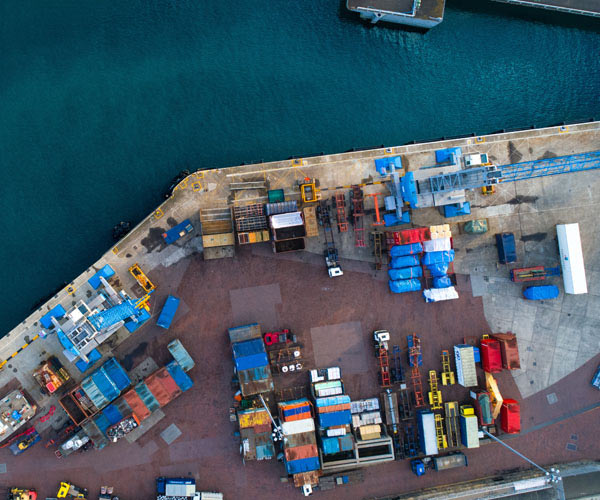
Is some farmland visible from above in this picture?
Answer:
No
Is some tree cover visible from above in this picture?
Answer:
No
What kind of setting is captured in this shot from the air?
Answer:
port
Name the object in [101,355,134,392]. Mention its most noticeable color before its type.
blue shipping container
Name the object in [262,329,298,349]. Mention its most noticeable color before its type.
red vehicle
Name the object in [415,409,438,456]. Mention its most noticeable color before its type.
white trailer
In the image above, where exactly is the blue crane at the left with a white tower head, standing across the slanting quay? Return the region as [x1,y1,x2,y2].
[40,265,164,373]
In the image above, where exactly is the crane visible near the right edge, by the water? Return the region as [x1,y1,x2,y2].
[375,147,600,228]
